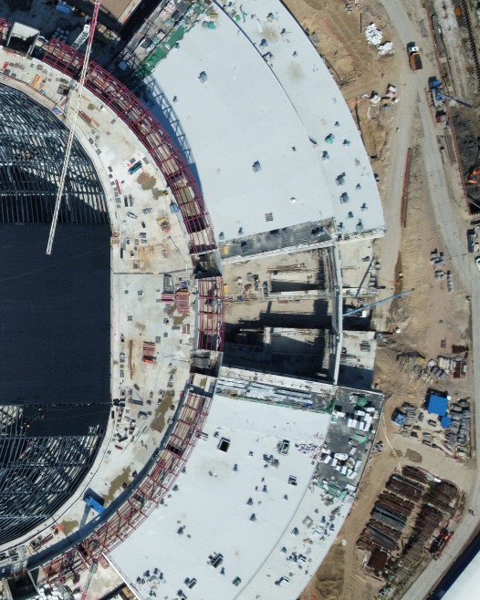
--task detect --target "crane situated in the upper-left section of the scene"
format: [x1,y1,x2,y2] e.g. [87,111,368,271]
[47,0,98,253]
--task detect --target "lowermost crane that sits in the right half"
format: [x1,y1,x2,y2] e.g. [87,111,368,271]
[340,290,412,323]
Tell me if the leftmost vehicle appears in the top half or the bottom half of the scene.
top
